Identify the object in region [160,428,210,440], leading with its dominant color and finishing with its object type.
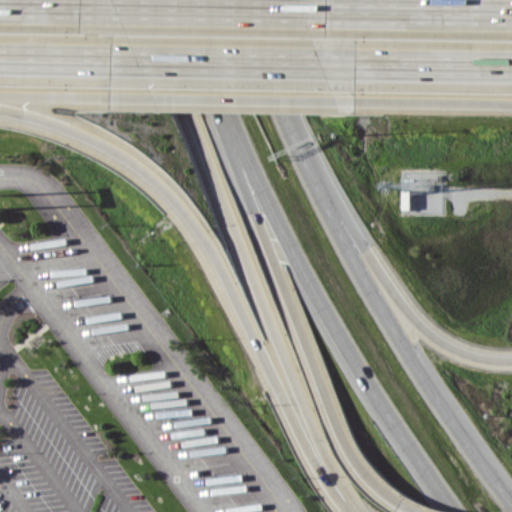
white vehicle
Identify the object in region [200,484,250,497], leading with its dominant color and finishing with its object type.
white vehicle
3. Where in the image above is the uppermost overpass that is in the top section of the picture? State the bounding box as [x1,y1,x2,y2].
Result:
[112,0,341,116]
